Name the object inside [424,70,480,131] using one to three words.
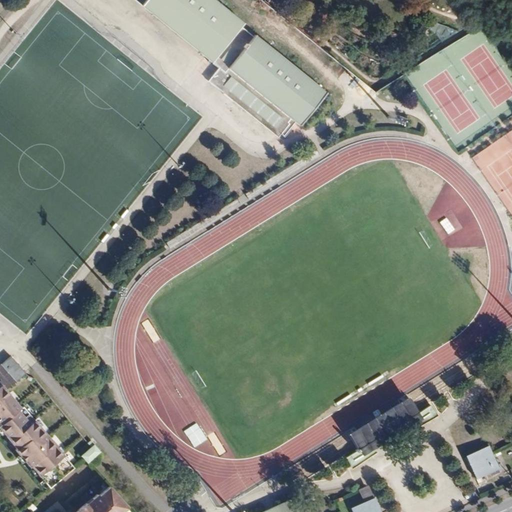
tennis court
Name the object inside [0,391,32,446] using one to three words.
house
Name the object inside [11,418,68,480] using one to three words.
house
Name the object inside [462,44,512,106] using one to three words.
tennis court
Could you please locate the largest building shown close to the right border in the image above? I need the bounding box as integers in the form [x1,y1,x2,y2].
[464,444,502,480]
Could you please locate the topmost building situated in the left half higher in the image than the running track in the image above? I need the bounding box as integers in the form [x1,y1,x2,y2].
[144,0,246,62]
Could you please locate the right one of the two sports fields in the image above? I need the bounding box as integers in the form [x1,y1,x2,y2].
[148,160,488,457]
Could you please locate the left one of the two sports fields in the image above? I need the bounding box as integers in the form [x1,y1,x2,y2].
[0,0,203,334]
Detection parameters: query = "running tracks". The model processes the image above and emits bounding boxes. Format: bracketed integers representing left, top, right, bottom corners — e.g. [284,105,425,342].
[116,140,512,510]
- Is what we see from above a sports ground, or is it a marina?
sports ground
